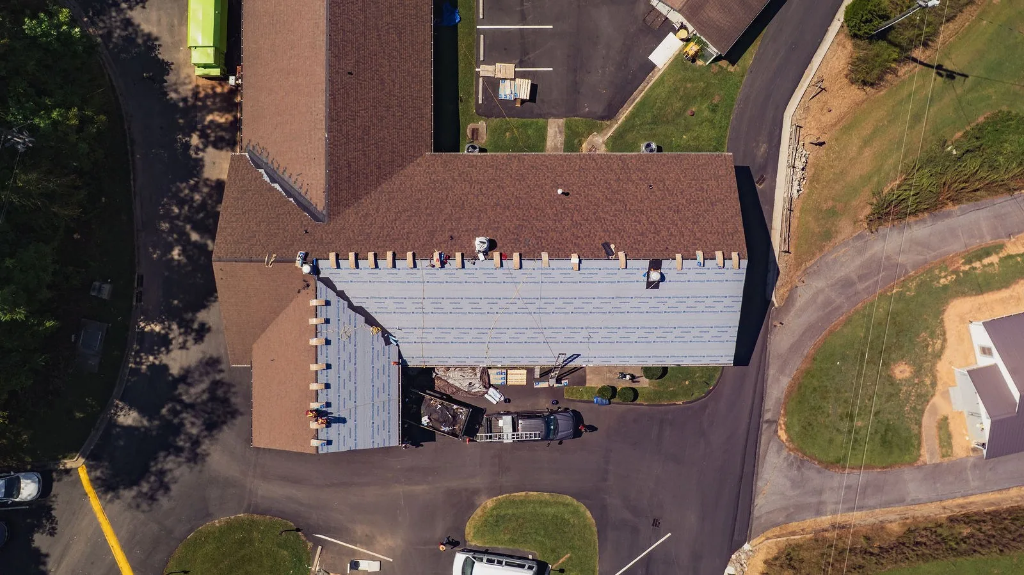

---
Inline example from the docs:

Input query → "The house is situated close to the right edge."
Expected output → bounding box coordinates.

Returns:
[939,308,1024,465]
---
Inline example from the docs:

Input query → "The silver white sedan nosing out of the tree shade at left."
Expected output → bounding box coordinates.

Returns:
[0,471,43,506]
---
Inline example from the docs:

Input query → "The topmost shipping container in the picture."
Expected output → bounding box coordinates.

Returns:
[188,0,232,79]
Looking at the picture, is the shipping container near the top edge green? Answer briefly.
Yes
